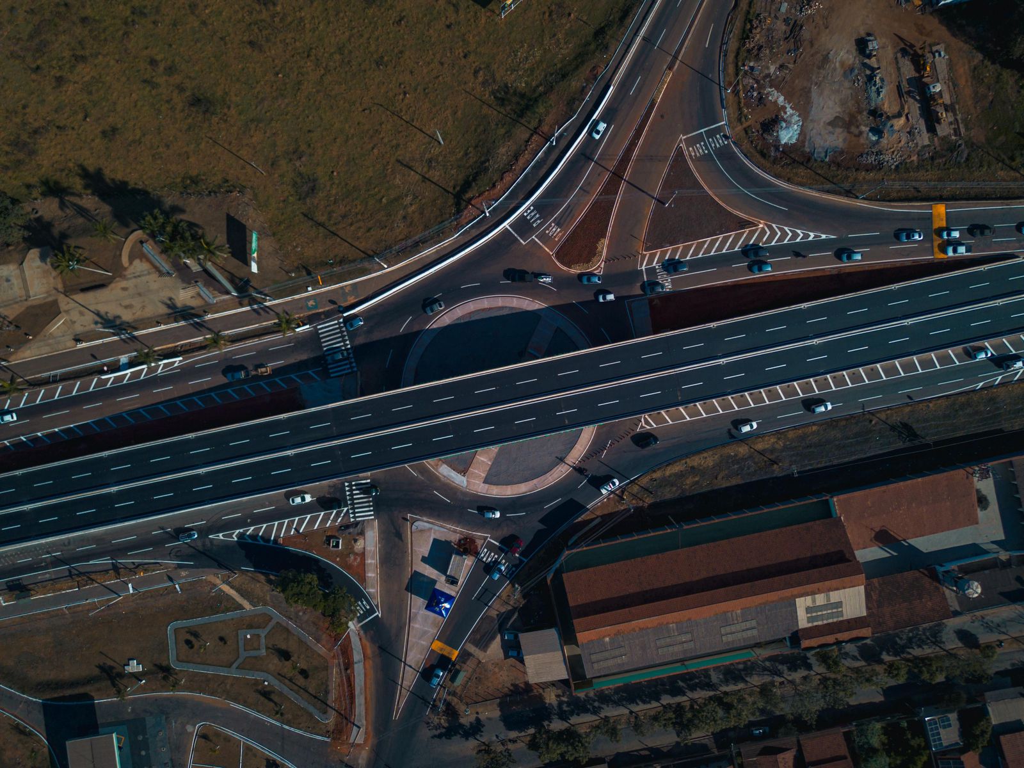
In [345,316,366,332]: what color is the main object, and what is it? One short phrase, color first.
blue car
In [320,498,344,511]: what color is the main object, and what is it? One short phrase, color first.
black vehicle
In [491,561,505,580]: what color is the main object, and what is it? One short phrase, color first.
blue car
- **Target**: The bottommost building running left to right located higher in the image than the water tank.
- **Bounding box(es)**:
[826,468,979,551]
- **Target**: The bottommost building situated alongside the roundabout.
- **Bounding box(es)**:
[562,513,872,678]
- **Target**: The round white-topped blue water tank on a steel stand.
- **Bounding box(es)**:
[924,563,981,597]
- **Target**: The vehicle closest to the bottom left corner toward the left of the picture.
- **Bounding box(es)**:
[178,530,199,542]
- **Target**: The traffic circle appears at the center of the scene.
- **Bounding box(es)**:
[398,294,595,497]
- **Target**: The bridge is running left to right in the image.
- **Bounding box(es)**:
[0,256,1024,551]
